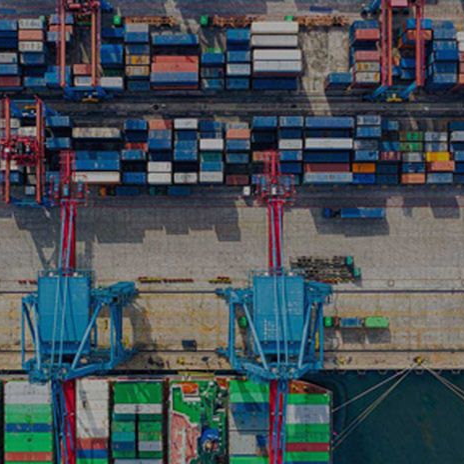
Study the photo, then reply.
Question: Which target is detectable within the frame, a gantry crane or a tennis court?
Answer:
gantry crane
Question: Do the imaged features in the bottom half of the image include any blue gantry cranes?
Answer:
Yes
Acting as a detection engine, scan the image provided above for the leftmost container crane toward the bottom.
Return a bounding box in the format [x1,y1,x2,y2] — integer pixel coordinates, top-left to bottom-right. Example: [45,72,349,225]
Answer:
[19,148,136,464]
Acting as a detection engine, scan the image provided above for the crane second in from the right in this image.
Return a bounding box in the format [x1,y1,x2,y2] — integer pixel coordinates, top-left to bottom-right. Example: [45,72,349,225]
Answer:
[216,148,332,464]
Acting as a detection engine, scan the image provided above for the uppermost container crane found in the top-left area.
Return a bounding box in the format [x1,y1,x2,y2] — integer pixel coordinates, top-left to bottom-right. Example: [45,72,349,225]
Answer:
[54,0,113,101]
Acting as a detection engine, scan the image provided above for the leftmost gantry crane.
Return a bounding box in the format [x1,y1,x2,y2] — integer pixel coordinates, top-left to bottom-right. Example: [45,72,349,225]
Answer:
[1,96,62,209]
